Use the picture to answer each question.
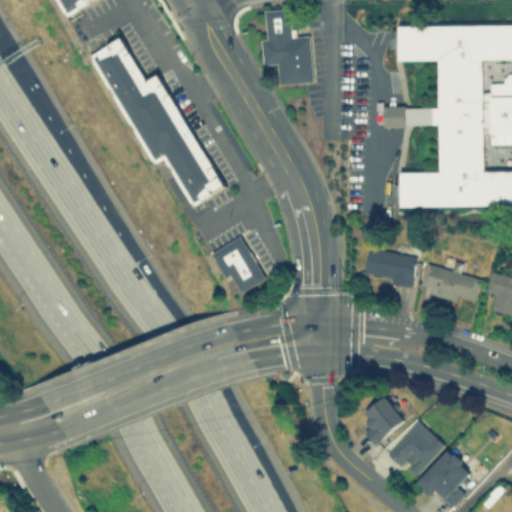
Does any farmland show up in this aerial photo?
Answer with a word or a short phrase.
No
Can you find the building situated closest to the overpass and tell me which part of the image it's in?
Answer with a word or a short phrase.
center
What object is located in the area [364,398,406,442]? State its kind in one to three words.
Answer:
house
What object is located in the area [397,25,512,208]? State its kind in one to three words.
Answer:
building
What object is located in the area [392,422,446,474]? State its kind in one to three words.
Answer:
house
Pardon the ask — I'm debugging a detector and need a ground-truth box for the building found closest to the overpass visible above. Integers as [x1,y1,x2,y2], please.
[214,236,266,292]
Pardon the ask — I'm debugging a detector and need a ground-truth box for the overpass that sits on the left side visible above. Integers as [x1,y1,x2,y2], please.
[38,309,280,452]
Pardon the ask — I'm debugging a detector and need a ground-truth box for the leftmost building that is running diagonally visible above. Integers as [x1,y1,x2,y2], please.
[92,38,223,208]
